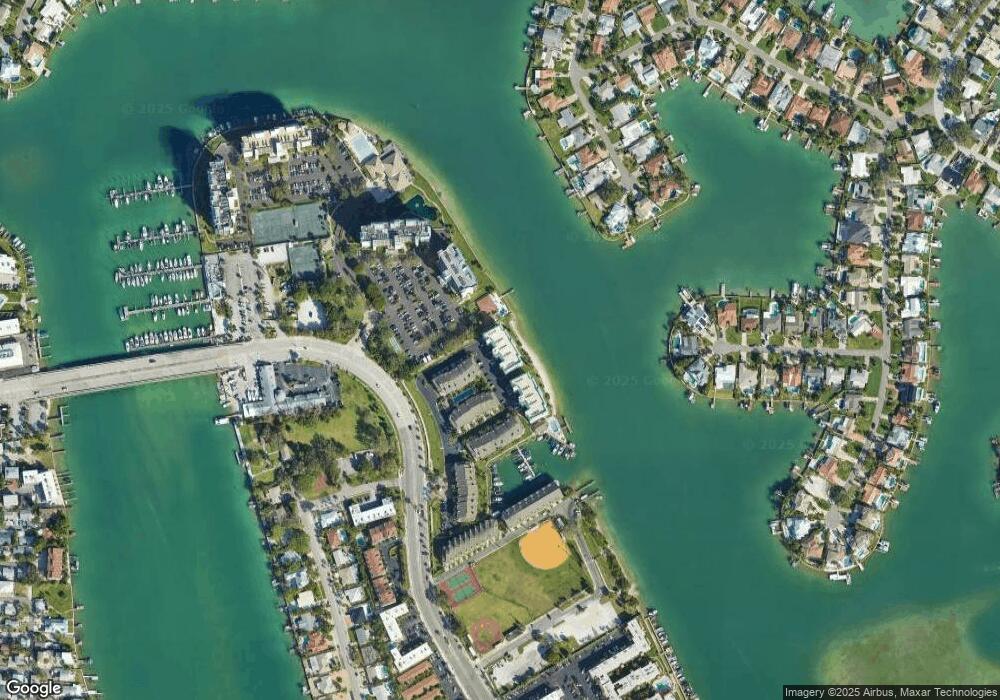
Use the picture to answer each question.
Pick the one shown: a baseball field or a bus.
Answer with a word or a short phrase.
baseball field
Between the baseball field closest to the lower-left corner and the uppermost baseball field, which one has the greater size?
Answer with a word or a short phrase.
the uppermost baseball field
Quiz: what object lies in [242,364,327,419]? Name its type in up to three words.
building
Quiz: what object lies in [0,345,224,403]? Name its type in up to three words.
bridge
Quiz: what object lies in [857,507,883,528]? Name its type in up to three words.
house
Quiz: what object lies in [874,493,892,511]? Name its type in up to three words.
swimming pool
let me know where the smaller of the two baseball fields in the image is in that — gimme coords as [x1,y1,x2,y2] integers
[471,617,504,653]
